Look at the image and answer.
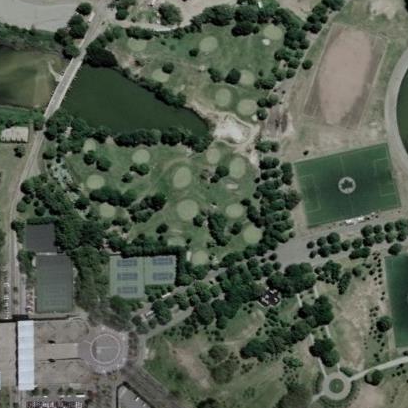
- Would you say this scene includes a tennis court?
Yes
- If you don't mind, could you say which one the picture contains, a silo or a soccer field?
soccer field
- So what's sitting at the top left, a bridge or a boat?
bridge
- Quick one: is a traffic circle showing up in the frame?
Yes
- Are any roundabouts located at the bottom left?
Yes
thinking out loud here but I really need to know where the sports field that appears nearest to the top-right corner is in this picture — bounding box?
[303,23,388,130]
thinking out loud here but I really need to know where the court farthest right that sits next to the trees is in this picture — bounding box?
[143,256,176,284]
